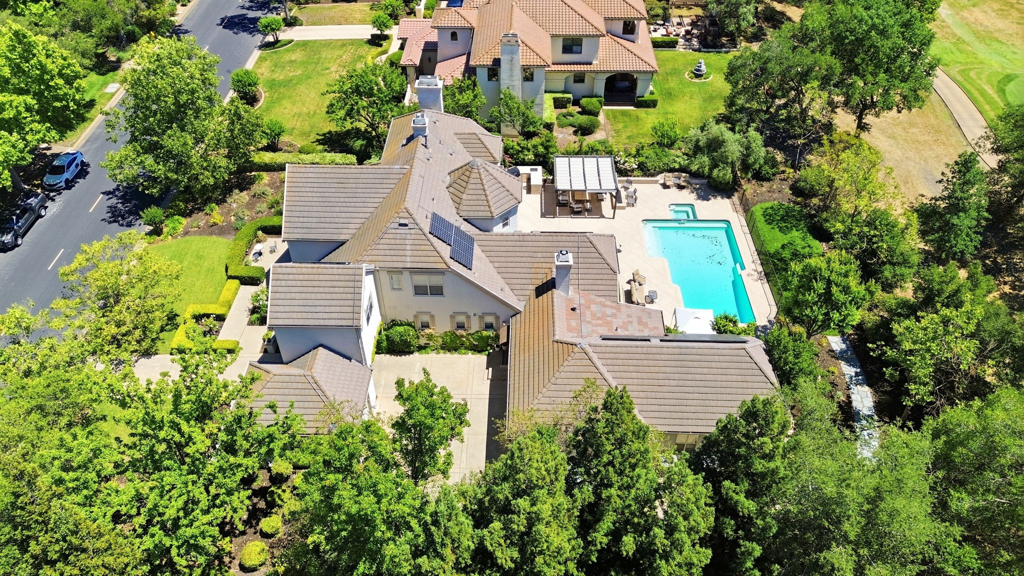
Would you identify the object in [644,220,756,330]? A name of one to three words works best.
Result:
swimming pool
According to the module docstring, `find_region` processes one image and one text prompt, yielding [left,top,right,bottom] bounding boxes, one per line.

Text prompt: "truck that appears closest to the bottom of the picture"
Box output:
[0,195,46,247]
